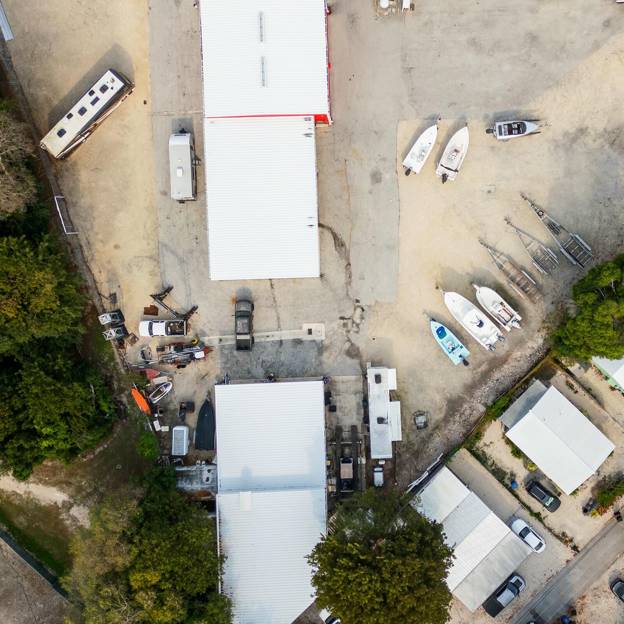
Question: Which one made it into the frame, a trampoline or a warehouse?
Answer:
warehouse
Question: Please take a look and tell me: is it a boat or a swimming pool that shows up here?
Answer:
boat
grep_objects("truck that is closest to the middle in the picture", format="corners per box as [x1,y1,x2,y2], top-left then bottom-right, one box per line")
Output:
[232,299,254,351]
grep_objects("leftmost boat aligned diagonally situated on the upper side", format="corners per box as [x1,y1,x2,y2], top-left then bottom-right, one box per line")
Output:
[404,125,437,176]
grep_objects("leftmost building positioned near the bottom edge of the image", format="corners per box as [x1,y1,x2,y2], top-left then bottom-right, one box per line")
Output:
[214,379,329,624]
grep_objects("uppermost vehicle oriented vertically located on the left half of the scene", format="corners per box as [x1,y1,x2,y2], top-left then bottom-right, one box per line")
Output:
[170,126,205,205]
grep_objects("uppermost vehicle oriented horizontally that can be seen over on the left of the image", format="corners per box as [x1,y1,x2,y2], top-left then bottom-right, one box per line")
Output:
[139,318,189,339]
